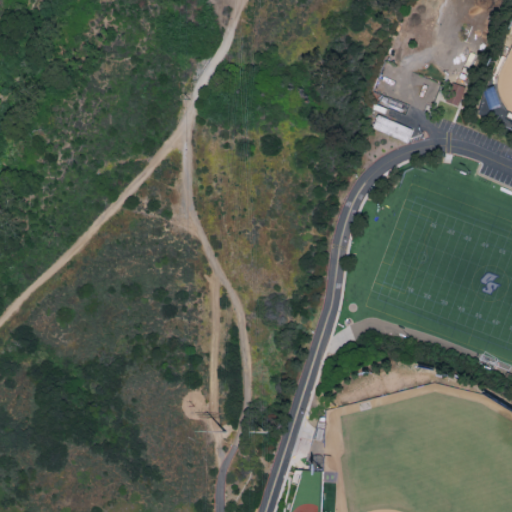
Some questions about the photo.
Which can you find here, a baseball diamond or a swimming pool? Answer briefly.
baseball diamond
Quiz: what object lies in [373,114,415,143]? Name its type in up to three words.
building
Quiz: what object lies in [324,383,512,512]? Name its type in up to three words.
baseball field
